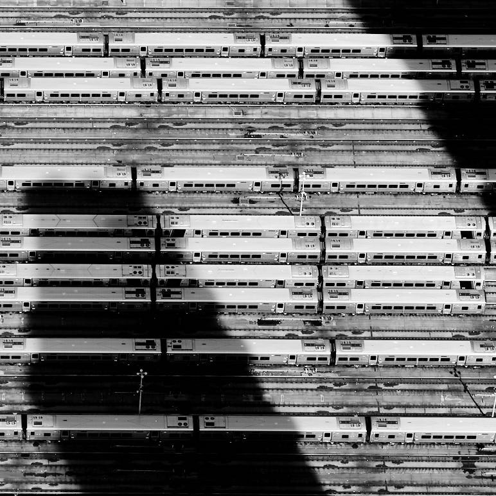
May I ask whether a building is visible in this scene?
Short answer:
No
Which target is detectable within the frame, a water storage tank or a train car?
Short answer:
train car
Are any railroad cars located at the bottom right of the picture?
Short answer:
Yes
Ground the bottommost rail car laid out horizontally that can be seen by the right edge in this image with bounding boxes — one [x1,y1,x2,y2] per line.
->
[366,415,496,445]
